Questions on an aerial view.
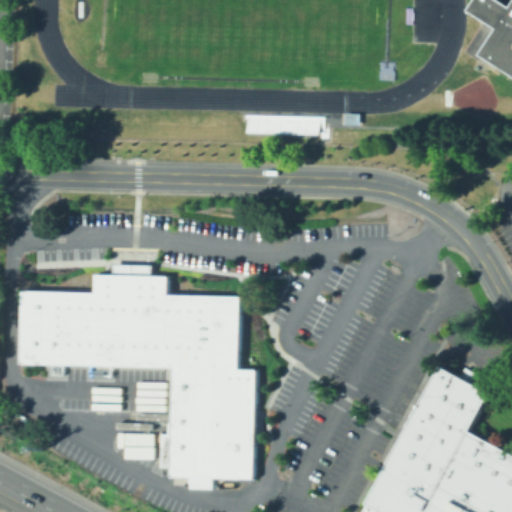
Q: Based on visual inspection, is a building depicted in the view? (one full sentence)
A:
Yes, there's a building here.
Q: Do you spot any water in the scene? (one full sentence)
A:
No, the picture contains no water.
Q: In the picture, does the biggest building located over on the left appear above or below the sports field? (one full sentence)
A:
Looking at the photo, you'll find the biggest building located over on the left below the sports field.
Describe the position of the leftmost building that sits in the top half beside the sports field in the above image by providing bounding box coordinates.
[246,114,330,140]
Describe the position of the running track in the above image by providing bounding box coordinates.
[36,0,467,114]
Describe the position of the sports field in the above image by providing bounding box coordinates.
[59,0,436,90]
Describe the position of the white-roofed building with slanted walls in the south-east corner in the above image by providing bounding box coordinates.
[360,368,512,512]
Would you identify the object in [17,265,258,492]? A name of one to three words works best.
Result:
building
